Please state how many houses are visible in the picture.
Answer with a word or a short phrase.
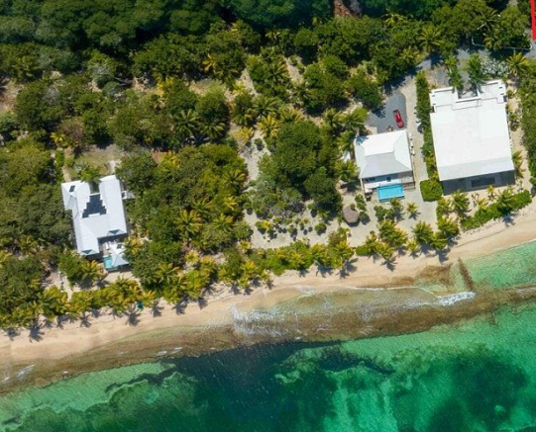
3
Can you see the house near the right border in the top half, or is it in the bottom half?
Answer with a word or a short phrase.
top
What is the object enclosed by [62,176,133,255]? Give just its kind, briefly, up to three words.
house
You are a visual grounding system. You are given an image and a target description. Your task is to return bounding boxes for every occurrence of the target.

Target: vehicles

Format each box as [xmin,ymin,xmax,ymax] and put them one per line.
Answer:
[394,110,404,128]
[415,120,421,129]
